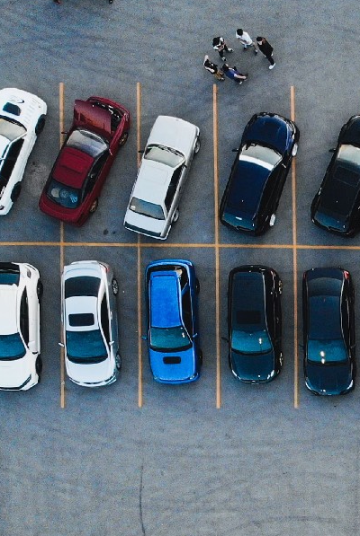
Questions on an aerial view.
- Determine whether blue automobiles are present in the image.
Yes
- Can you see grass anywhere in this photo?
No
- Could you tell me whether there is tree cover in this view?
No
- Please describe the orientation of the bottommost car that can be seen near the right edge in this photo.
up and down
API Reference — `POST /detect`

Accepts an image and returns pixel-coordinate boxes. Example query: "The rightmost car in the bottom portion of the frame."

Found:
[296,266,359,397]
